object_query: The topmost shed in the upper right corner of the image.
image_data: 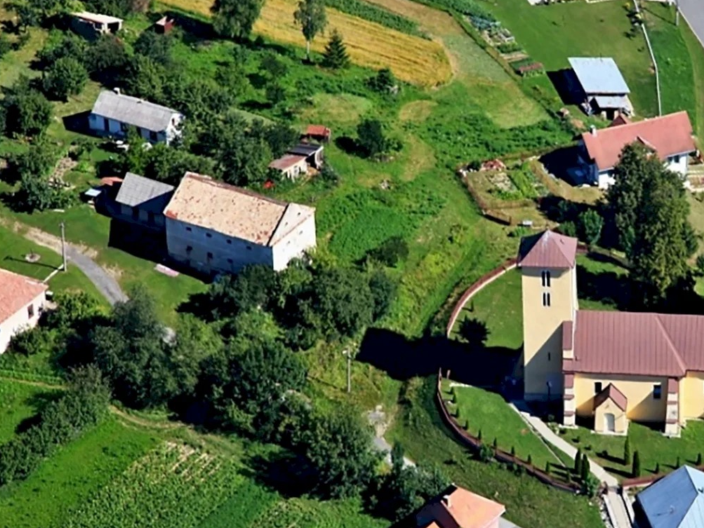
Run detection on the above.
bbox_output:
[573,52,629,120]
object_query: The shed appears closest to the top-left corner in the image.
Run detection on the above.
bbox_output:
[70,8,112,37]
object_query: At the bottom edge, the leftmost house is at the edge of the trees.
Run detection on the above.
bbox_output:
[408,487,505,528]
